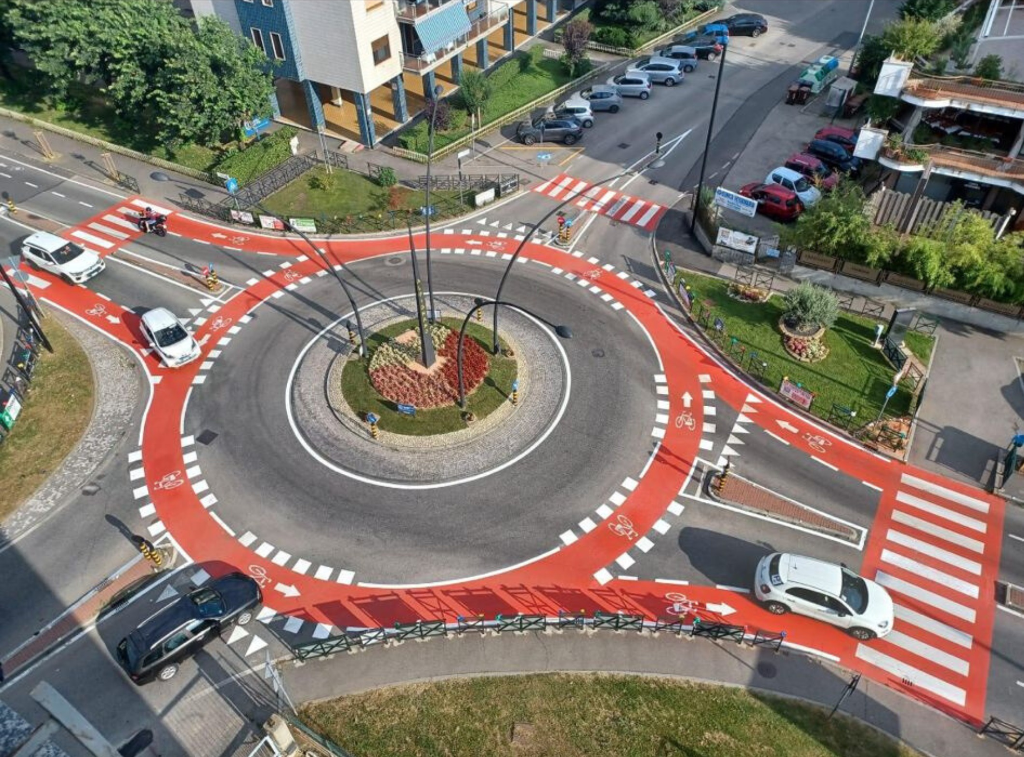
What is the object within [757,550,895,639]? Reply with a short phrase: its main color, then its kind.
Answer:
white car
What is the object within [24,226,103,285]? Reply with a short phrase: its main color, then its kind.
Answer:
white car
